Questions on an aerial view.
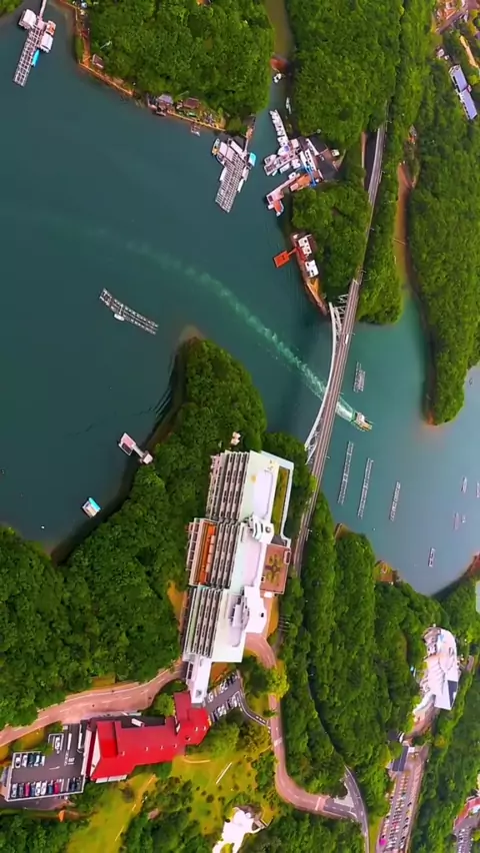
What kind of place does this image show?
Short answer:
port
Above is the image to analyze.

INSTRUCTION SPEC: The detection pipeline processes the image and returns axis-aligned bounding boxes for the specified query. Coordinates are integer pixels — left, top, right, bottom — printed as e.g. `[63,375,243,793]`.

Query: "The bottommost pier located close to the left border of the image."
[13,18,45,90]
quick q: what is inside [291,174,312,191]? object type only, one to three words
ship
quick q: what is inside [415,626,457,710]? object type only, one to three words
building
